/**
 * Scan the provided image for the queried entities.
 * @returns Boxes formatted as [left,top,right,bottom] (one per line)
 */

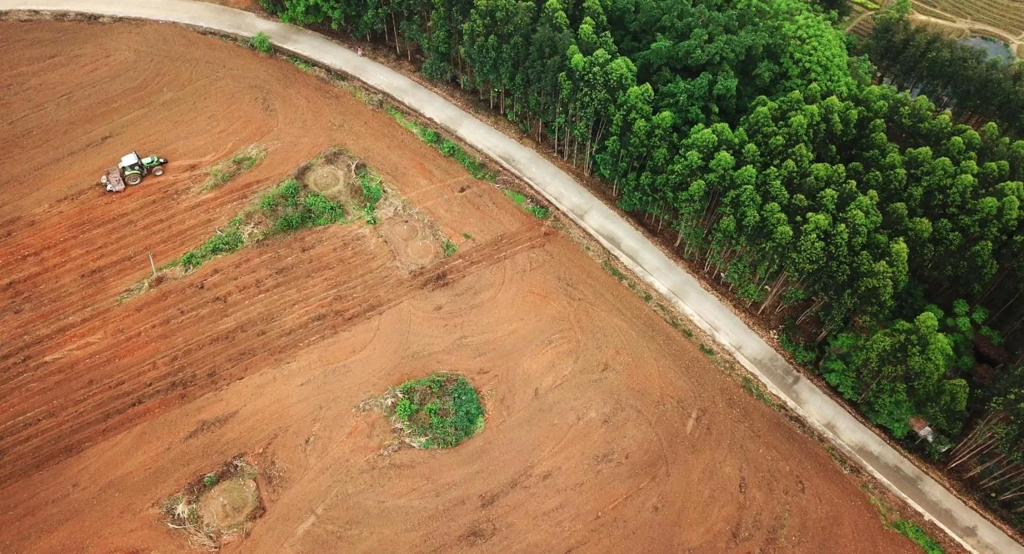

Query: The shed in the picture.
[902,415,938,451]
